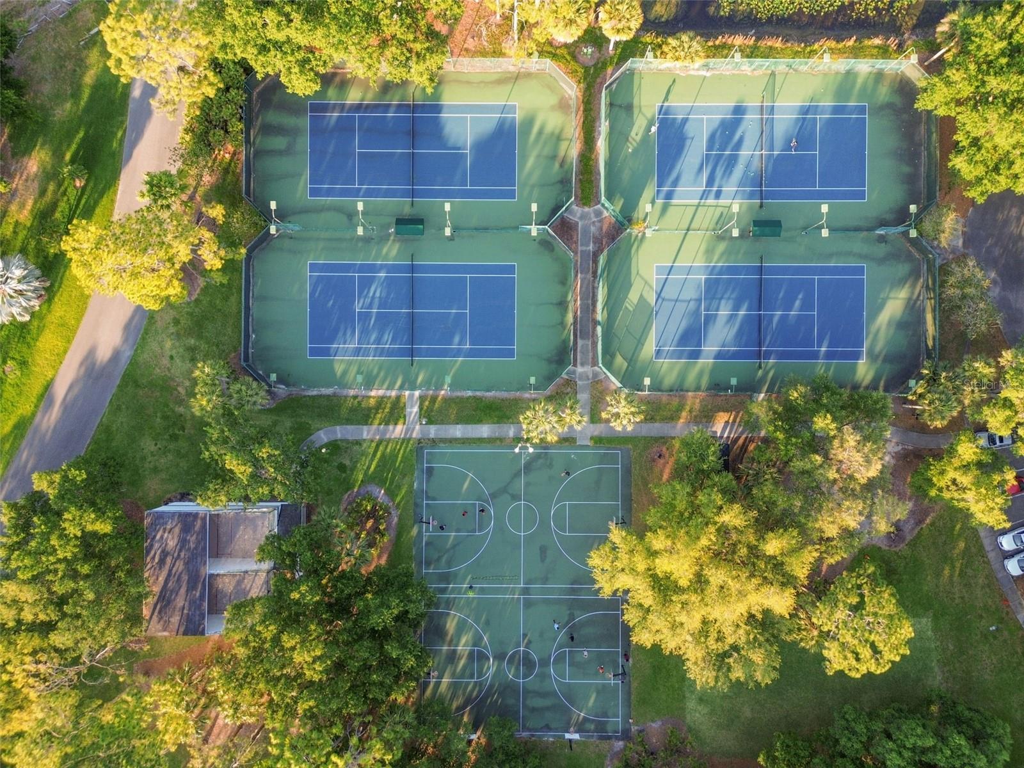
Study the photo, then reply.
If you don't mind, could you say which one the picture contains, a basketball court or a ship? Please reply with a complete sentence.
The image shows a basketball court.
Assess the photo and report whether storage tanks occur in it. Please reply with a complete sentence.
No, the photo shows no storage tank.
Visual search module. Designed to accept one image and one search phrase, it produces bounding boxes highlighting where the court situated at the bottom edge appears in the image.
[413,591,632,741]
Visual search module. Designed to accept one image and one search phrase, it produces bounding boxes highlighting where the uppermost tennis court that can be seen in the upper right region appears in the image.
[601,73,922,230]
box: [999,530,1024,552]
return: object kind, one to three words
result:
car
